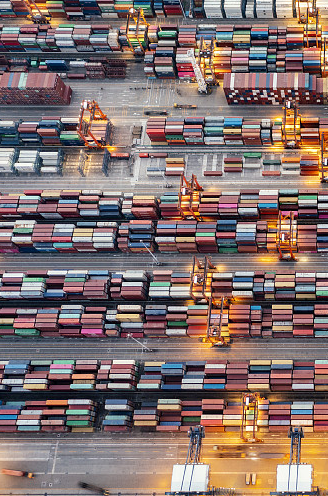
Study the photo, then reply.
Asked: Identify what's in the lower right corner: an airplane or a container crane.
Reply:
container crane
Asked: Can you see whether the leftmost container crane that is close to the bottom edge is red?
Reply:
No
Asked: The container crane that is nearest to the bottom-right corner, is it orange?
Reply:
No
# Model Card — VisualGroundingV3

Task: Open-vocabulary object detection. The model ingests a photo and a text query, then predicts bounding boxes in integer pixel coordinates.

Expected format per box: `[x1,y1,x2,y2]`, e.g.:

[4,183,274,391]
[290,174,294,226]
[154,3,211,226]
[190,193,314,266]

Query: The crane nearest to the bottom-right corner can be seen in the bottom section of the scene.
[269,430,328,496]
